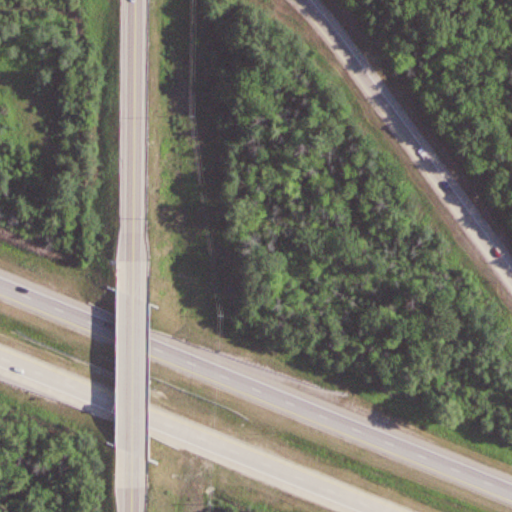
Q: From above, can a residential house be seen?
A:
No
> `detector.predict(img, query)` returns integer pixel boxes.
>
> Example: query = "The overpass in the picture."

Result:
[107,261,158,488]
